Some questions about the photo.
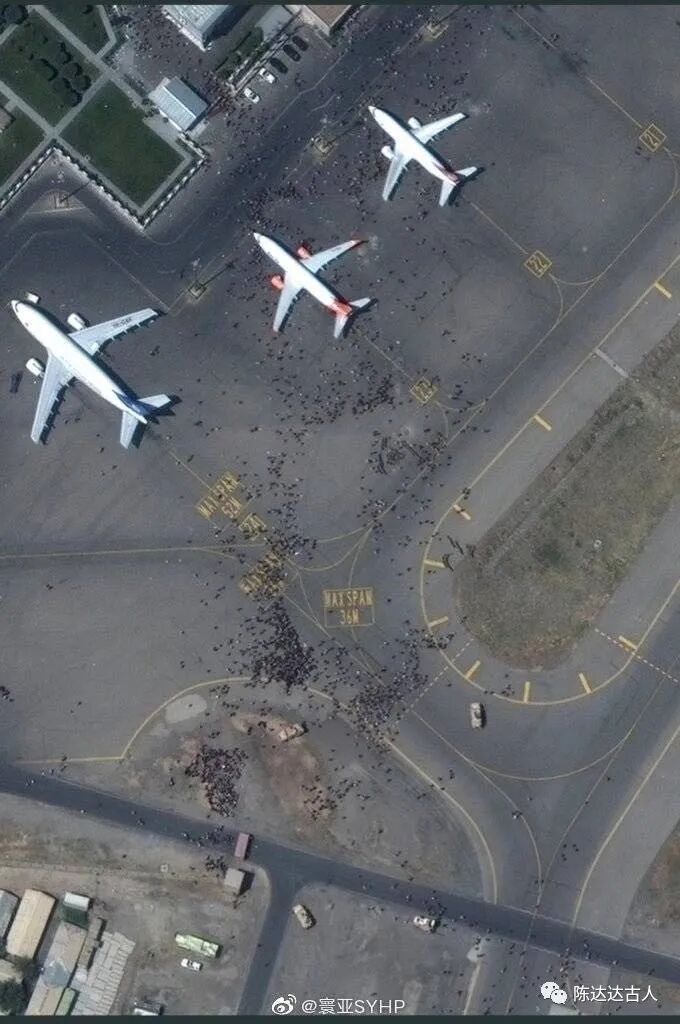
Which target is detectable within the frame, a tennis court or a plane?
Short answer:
plane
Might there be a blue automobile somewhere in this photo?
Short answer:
No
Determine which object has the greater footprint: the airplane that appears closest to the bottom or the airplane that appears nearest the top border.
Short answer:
the airplane that appears closest to the bottom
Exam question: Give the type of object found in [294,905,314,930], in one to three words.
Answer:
vehicle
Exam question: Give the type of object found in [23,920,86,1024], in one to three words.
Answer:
shed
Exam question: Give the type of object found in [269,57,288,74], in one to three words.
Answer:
car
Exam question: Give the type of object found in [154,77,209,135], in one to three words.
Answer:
building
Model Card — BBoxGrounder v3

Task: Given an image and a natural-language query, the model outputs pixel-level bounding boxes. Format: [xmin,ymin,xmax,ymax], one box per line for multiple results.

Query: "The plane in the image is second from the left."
[254,234,372,337]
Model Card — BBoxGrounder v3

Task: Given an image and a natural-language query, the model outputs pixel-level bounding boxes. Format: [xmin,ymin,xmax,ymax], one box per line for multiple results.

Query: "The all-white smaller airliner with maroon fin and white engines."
[368,106,480,207]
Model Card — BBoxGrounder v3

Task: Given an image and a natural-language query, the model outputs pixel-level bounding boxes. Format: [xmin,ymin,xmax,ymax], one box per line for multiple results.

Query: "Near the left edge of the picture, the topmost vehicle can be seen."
[23,292,40,305]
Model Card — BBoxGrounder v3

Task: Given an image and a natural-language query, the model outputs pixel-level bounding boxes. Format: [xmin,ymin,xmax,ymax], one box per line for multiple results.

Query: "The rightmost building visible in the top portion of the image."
[305,0,365,35]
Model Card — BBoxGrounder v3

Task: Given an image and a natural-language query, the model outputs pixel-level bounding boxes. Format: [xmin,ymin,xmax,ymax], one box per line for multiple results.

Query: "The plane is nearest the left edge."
[12,300,170,449]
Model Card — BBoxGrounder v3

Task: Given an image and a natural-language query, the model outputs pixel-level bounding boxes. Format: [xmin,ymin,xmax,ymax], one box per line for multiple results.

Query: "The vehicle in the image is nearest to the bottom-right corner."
[412,916,437,931]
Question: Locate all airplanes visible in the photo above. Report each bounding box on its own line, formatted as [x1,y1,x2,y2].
[368,106,480,207]
[254,234,372,337]
[12,300,170,449]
